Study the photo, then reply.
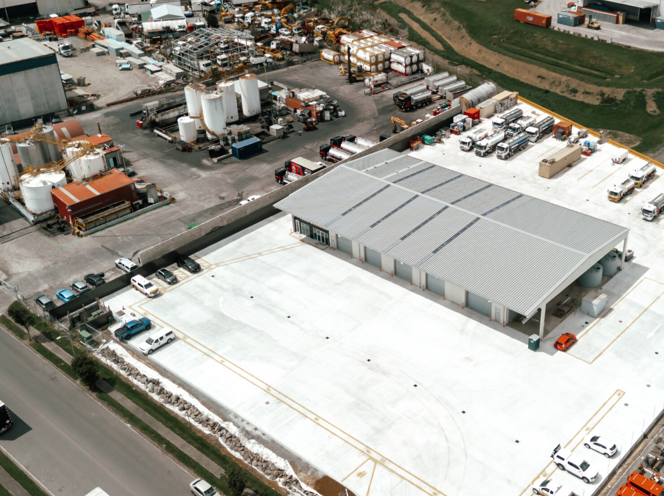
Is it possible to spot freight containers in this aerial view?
Yes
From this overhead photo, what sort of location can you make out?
industrial area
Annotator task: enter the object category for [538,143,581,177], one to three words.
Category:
shipping container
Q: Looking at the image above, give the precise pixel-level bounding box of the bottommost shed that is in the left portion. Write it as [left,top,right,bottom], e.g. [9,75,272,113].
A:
[49,171,139,230]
